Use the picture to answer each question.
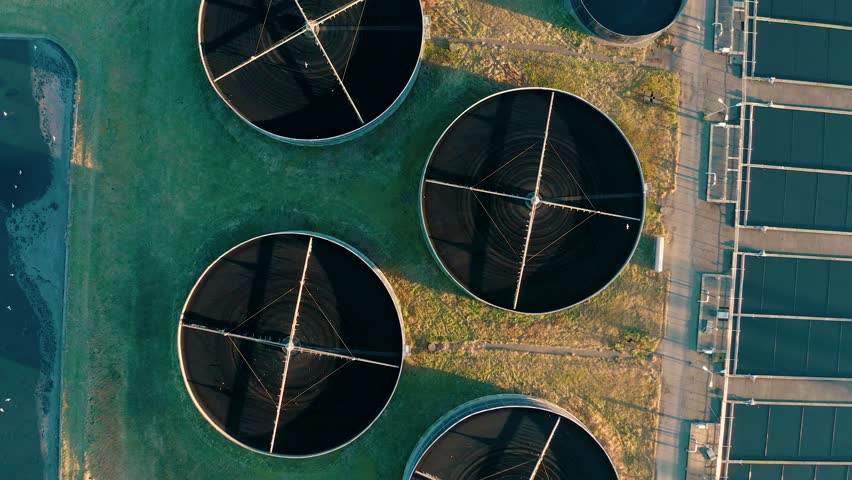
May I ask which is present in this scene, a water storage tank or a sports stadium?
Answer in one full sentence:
The image shows a water storage tank.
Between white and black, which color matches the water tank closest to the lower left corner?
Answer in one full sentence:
In this view, the water tank closest to the lower left corner is black.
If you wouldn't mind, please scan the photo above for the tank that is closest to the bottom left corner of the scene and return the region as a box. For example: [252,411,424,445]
[179,232,407,458]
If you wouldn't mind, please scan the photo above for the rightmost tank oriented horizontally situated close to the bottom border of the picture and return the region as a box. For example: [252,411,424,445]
[404,393,620,480]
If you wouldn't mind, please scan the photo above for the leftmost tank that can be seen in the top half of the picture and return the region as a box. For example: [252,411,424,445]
[198,0,424,148]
